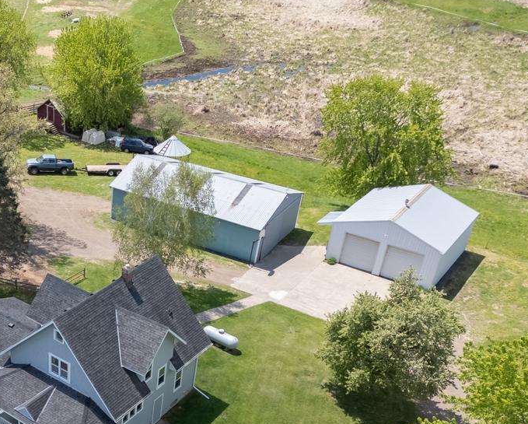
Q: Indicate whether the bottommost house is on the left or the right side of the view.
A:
left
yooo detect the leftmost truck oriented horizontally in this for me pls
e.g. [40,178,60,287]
[25,151,76,174]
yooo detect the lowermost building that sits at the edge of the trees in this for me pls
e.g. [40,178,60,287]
[0,257,216,424]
